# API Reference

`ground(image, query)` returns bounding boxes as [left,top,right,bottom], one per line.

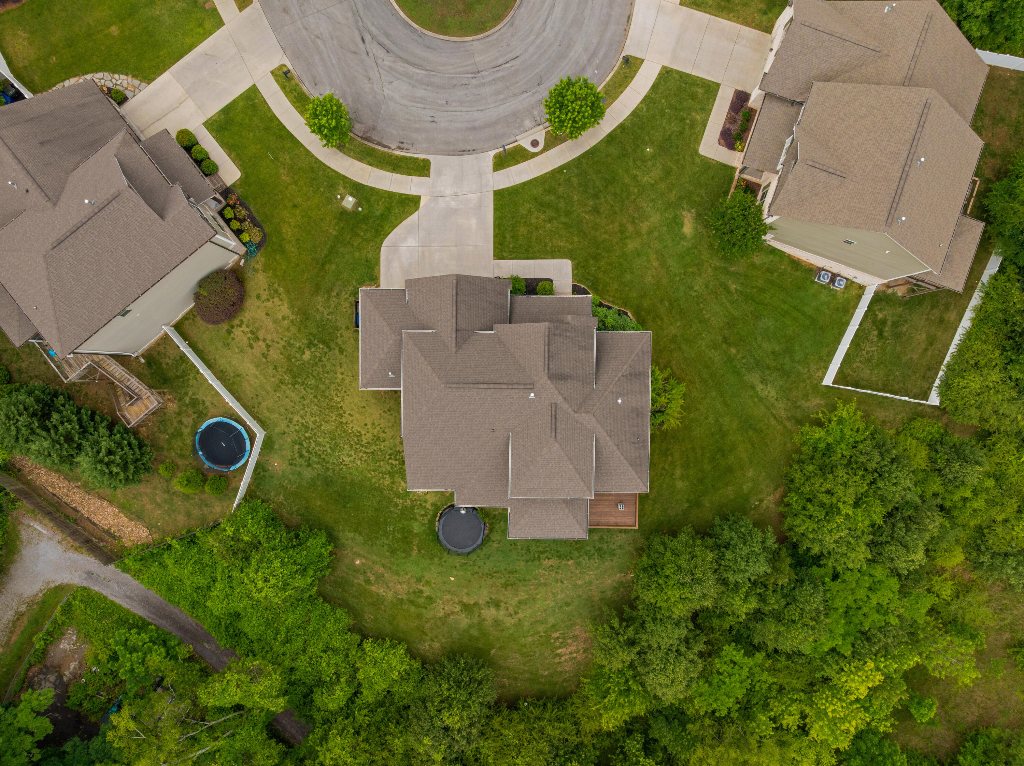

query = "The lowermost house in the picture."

[357,274,653,541]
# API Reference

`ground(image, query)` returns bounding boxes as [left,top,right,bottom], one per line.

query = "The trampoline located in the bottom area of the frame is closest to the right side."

[437,506,487,557]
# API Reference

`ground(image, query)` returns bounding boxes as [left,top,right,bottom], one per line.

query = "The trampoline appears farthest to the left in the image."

[186,417,253,472]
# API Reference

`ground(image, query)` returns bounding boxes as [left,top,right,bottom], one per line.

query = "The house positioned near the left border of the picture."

[0,77,251,361]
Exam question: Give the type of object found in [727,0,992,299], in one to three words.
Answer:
house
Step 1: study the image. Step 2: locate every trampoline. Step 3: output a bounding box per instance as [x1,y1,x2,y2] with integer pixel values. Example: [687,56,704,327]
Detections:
[186,417,253,472]
[437,506,487,557]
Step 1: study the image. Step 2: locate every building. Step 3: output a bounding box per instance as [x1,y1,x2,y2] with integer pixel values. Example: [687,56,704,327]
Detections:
[357,274,653,541]
[727,0,992,299]
[0,77,251,361]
